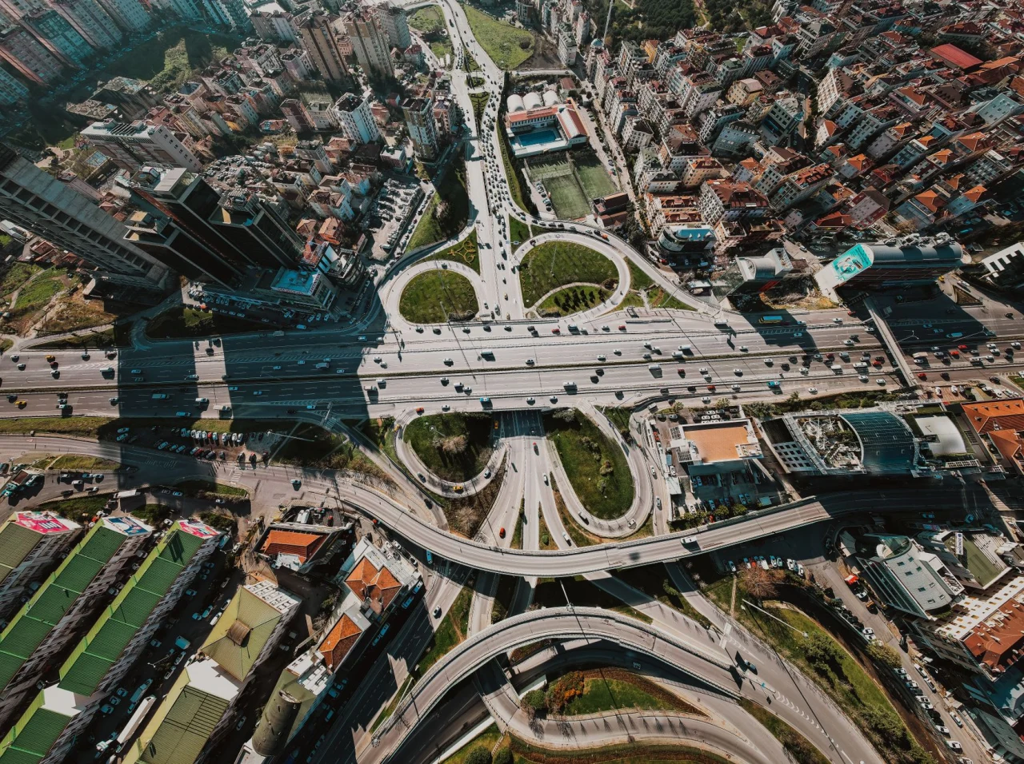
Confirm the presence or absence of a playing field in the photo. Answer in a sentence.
Yes, a playing field is visible in the scene.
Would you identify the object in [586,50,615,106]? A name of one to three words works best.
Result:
building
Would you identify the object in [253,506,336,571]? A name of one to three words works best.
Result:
building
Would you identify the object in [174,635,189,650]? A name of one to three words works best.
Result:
vehicle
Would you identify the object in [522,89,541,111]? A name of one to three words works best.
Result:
tent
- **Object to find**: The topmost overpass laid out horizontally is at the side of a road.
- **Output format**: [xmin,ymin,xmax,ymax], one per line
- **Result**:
[334,478,1024,576]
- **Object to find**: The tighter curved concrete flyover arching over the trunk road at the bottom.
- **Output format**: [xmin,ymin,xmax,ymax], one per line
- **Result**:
[352,602,766,764]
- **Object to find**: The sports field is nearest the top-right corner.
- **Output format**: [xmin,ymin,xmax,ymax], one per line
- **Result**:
[570,150,616,201]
